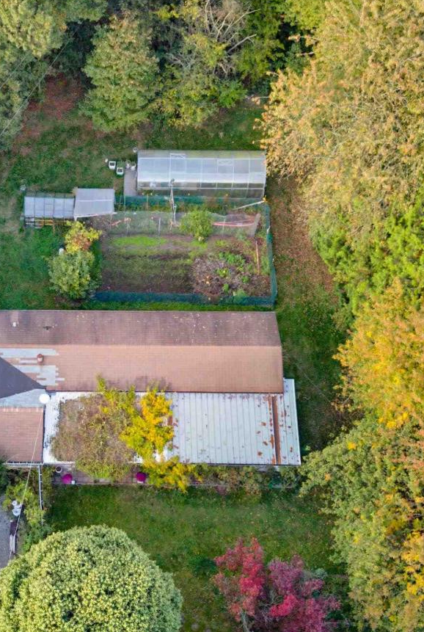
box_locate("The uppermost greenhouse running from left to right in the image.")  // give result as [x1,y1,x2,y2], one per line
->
[135,148,269,197]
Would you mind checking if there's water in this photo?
No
